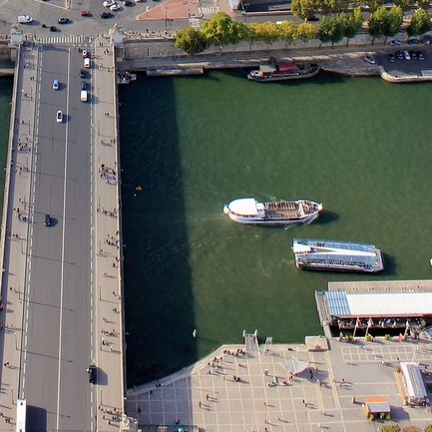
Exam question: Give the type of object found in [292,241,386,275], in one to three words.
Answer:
boat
